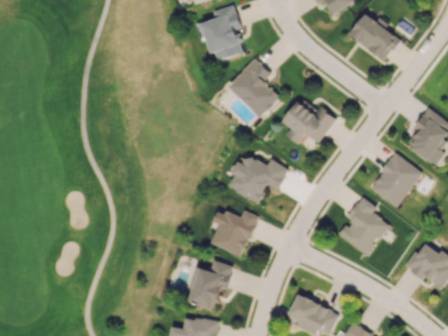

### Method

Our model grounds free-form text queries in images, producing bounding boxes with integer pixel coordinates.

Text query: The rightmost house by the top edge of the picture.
[350,14,400,63]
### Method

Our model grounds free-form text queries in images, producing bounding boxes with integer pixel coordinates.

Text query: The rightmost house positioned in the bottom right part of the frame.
[407,244,448,288]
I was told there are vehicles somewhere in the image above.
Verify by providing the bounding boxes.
[330,290,338,303]
[374,154,384,165]
[293,170,305,179]
[381,145,393,154]
[260,51,272,62]
[418,42,430,55]
[240,3,252,10]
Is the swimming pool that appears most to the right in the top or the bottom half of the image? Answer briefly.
top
